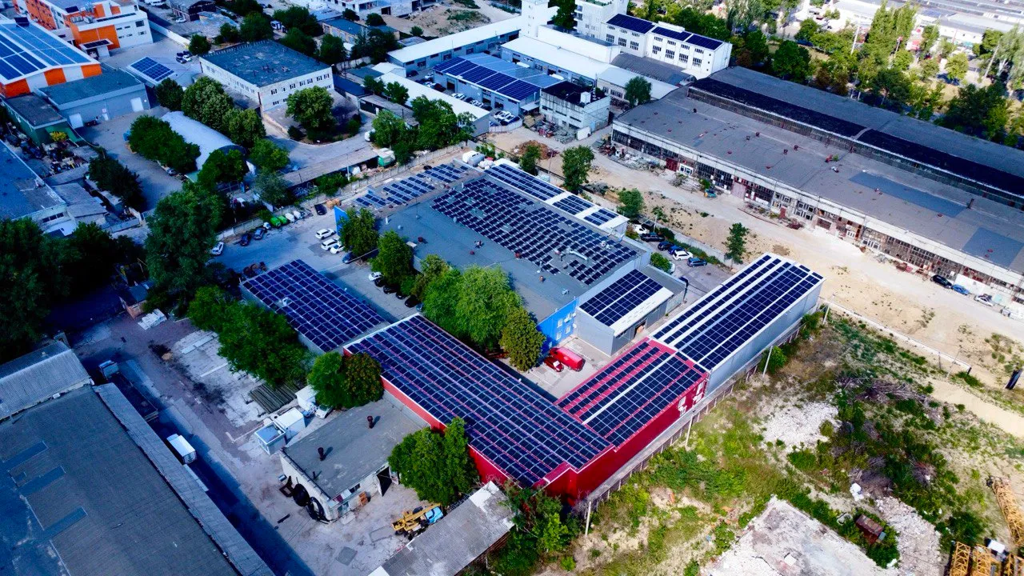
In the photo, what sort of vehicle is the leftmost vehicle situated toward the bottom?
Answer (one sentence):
The leftmost vehicle situated toward the bottom in the image is a truck.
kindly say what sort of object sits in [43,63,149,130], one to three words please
building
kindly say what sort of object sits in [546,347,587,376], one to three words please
van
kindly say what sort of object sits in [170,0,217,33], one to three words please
shed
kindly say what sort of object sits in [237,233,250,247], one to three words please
vehicle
